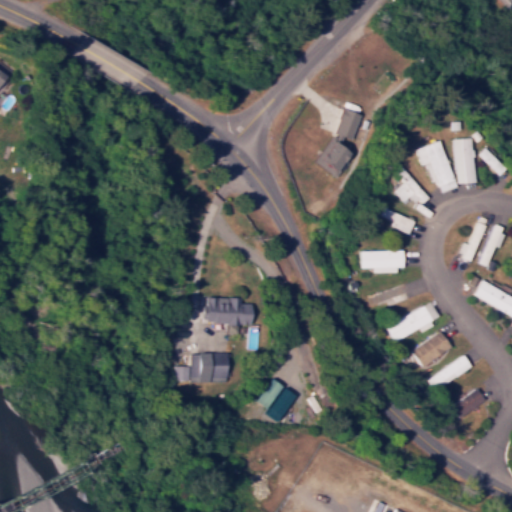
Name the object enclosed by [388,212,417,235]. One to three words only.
house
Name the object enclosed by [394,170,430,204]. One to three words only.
house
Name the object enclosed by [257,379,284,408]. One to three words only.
shed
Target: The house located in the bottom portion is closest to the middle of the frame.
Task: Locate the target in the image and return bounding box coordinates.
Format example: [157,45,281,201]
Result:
[206,298,254,326]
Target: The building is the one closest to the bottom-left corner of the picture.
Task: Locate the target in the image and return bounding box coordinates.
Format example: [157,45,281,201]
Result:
[176,354,230,382]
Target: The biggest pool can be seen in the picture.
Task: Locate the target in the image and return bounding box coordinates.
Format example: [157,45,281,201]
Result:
[248,326,260,351]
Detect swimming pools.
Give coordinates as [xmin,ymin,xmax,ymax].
[248,326,260,351]
[2,96,16,112]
